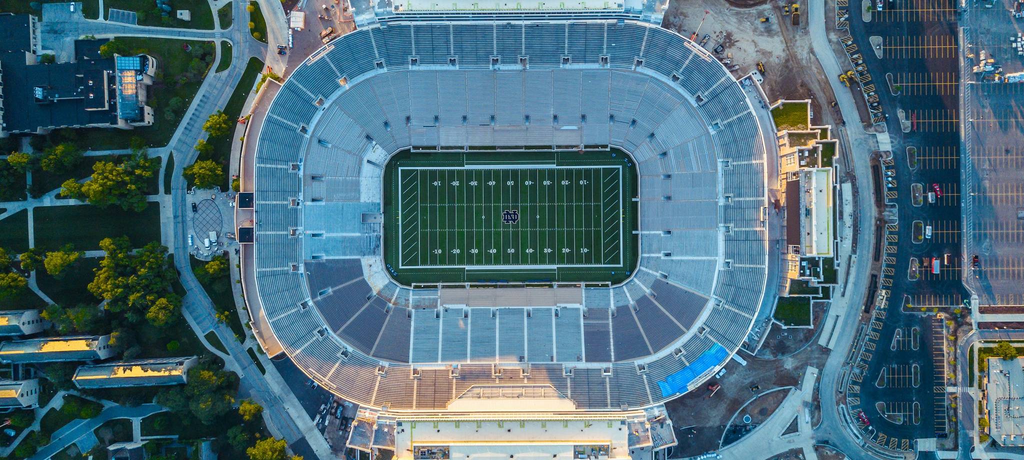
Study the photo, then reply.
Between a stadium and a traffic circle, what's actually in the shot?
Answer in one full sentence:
The image shows a stadium.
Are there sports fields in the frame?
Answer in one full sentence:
Yes, there is a sports field in the image.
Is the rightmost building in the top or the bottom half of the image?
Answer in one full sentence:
The rightmost building is in the bottom half of the image.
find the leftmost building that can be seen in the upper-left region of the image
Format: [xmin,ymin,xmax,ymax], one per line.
[0,14,166,135]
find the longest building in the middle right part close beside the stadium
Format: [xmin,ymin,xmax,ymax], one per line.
[770,100,840,328]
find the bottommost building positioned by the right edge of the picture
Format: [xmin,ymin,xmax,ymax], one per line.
[978,356,1024,446]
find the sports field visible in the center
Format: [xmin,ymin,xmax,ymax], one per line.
[382,145,639,289]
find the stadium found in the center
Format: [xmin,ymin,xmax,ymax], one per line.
[232,20,781,412]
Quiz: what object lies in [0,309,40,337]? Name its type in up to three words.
building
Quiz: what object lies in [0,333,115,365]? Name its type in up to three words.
building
